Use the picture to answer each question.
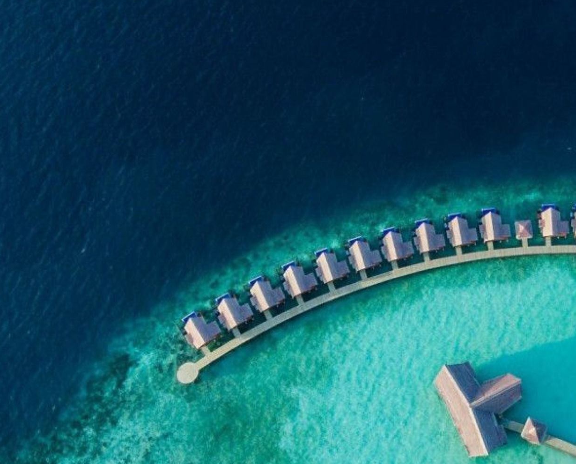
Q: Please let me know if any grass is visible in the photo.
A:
No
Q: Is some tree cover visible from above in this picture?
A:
No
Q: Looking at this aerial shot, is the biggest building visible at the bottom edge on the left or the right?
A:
right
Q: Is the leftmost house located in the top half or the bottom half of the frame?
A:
bottom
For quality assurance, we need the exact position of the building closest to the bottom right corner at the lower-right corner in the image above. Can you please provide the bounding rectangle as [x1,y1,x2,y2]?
[521,415,546,443]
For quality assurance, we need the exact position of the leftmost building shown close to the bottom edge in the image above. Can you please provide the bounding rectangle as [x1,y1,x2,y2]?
[434,360,522,456]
